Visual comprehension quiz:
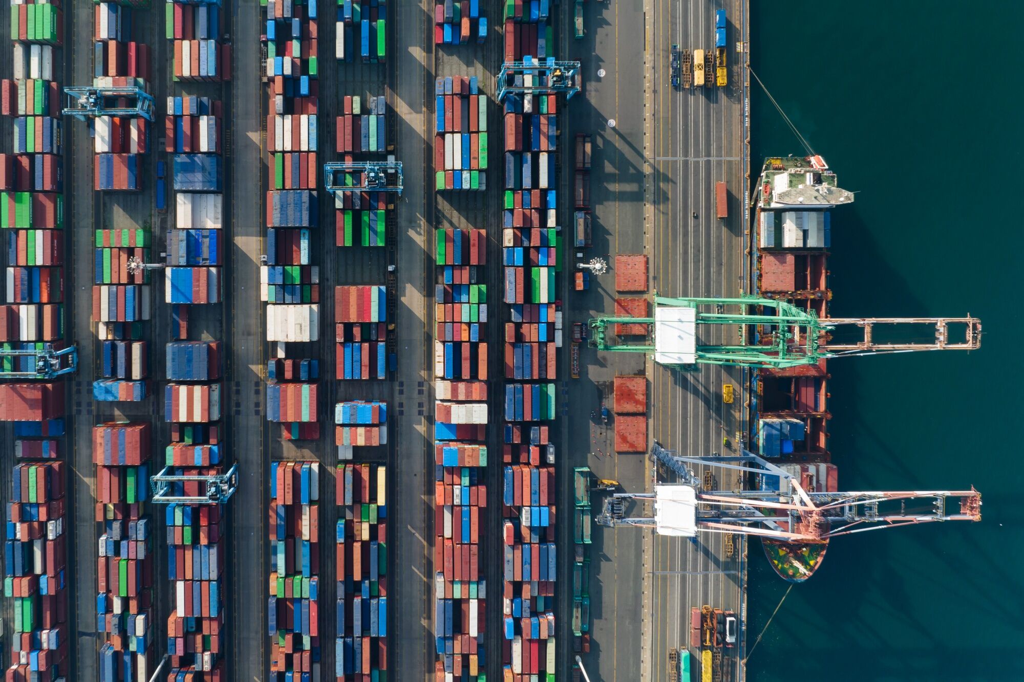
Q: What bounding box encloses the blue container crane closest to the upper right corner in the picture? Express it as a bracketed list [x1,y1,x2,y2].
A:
[495,63,582,106]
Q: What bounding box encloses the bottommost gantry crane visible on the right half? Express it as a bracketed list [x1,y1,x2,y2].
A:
[599,429,986,545]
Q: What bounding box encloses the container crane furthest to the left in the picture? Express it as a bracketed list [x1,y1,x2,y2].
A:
[0,339,83,377]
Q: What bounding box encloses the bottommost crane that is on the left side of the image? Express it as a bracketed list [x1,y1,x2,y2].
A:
[151,456,242,505]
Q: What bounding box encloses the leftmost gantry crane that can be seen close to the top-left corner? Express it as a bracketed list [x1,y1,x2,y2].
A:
[62,91,160,126]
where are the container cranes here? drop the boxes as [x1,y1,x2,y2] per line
[599,429,986,545]
[62,91,160,126]
[0,339,83,377]
[151,456,242,505]
[495,63,582,106]
[589,282,984,371]
[323,163,407,198]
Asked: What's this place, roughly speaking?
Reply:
port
